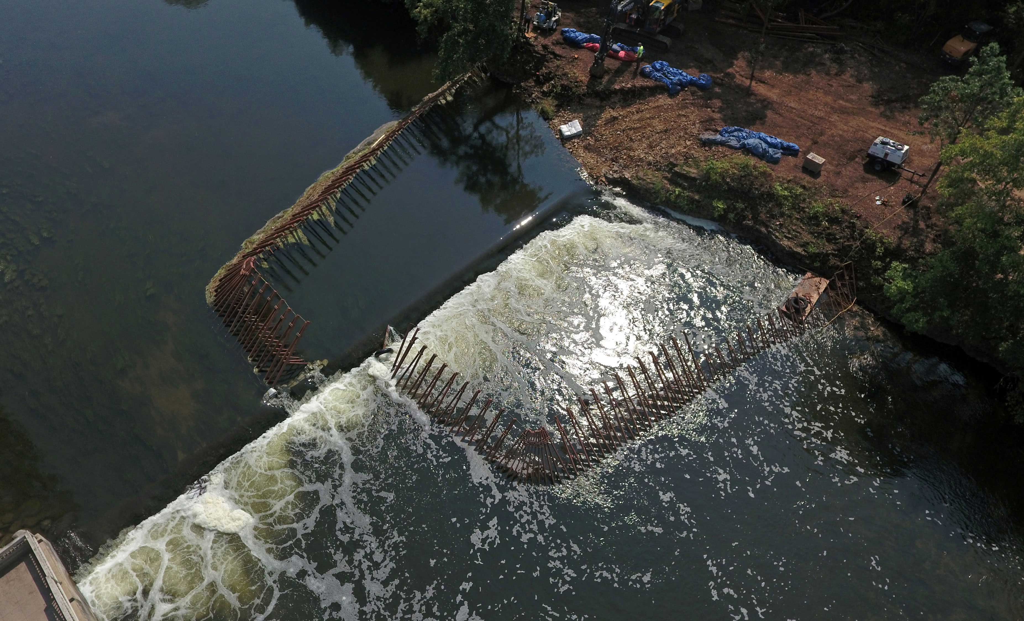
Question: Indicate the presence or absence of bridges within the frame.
No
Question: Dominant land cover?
water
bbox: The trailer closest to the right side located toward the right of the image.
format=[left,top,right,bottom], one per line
[864,125,938,175]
